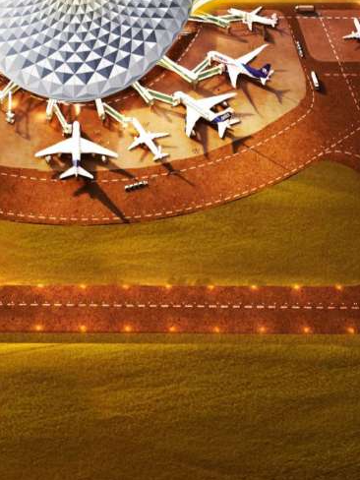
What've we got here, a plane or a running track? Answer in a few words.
plane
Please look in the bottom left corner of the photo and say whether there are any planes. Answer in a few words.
No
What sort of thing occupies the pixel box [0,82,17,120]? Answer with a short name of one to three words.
jet bridge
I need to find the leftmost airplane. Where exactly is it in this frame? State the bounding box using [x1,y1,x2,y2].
[37,120,117,175]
